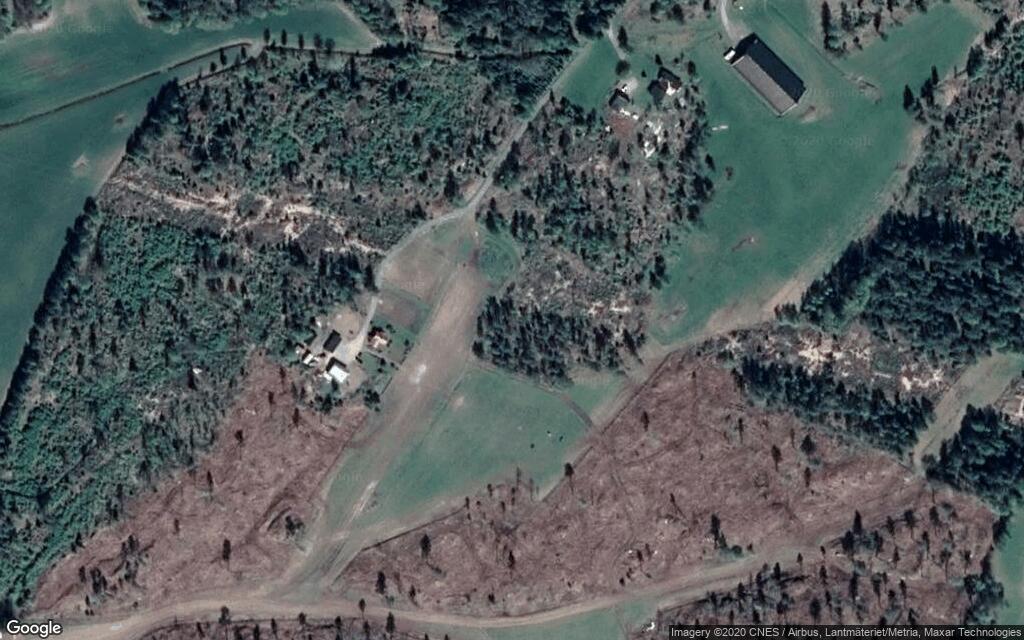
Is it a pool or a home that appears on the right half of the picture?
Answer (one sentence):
Looking on the right half of the picture, you will find a home.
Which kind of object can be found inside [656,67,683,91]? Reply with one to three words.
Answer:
house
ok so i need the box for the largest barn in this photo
[730,39,806,117]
